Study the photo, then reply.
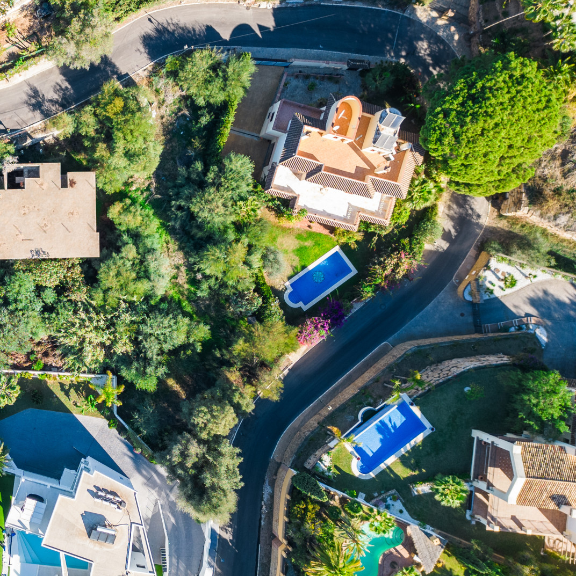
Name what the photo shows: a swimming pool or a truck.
swimming pool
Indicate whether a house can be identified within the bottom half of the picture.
Yes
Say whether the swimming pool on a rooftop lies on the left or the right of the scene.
left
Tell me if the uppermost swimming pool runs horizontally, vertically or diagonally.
diagonally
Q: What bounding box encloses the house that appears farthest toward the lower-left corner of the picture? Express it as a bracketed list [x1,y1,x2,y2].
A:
[6,456,159,576]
